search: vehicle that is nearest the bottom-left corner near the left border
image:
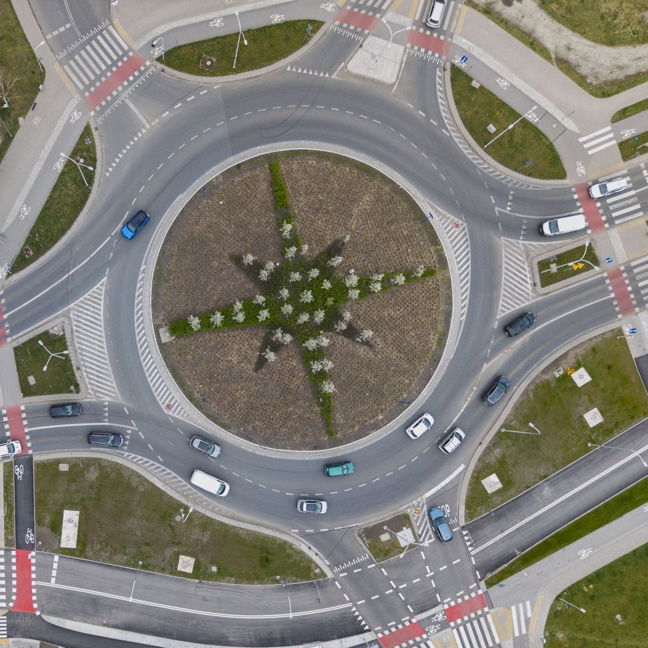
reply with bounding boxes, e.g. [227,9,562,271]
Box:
[0,440,23,457]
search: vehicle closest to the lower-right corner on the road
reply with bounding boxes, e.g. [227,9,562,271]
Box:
[427,506,453,543]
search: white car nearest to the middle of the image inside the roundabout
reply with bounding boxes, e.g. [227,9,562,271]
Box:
[403,411,433,441]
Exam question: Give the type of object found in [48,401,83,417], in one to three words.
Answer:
car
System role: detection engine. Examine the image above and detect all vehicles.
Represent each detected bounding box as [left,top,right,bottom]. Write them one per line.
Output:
[479,373,511,407]
[324,459,354,476]
[188,434,222,457]
[87,431,123,449]
[501,311,536,337]
[436,425,465,456]
[48,401,83,417]
[190,467,231,498]
[0,440,23,457]
[403,411,433,441]
[122,211,149,241]
[539,215,588,237]
[295,499,328,515]
[427,506,453,543]
[587,178,627,200]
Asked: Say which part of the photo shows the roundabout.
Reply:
center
